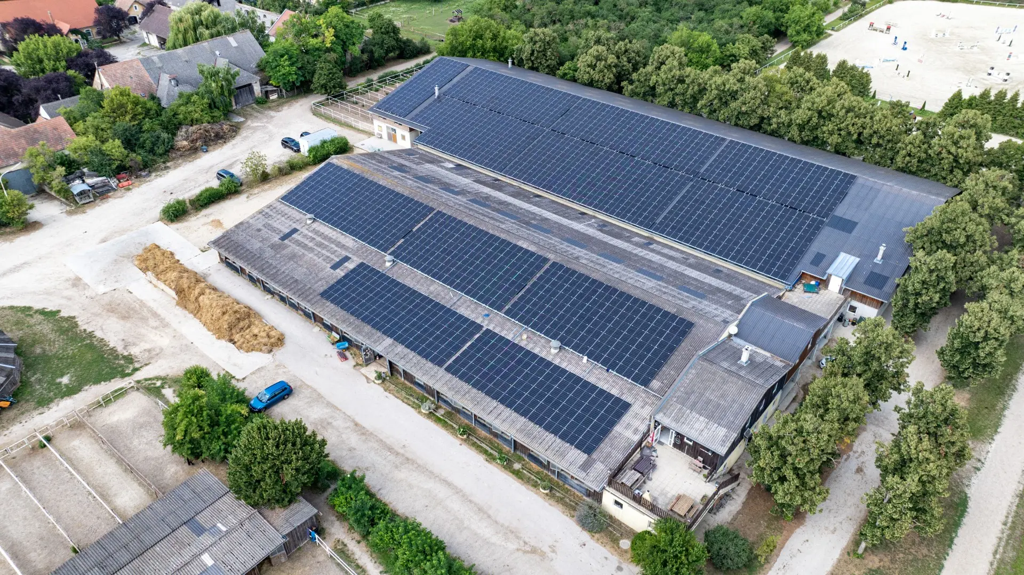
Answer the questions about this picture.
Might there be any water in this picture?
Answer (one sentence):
No, water can't be seen anywhere here.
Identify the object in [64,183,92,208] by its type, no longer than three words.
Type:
building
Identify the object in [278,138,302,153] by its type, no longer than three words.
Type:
car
